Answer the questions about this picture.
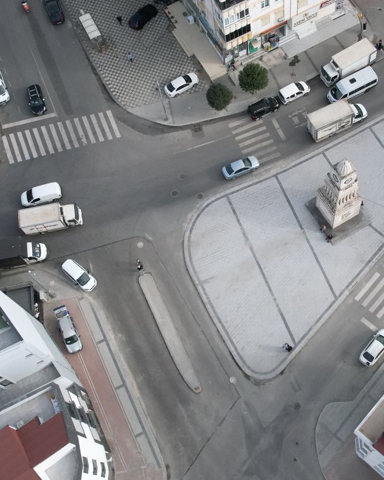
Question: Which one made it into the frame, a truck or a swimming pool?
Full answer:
Visible in the photo is a truck.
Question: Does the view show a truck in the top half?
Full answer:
Yes, looking in the top half, one can make out a truck.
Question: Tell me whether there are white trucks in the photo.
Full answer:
Yes, there is a white truck in the image.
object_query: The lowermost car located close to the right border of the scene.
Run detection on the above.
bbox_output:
[358,327,384,371]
